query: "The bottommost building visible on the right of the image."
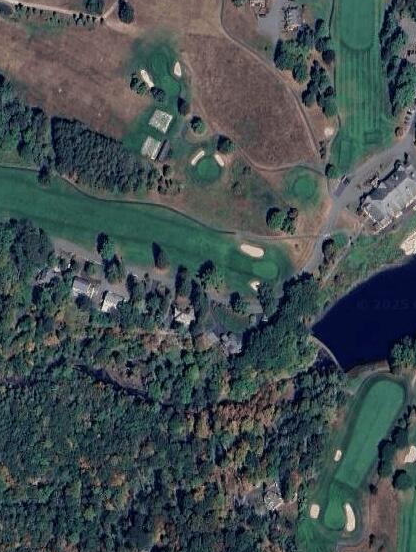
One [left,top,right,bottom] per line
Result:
[260,482,287,511]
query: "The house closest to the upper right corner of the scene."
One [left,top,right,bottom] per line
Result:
[286,9,303,31]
